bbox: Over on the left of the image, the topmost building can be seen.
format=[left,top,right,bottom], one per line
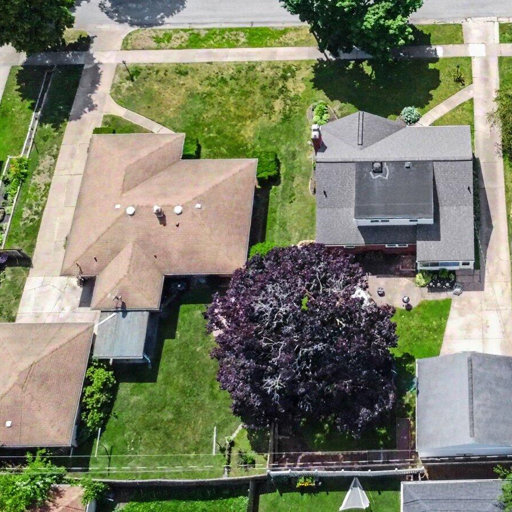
[58,132,259,313]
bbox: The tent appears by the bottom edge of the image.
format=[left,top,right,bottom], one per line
[338,475,370,512]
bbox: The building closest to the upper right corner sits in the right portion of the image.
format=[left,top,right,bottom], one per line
[310,110,475,271]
